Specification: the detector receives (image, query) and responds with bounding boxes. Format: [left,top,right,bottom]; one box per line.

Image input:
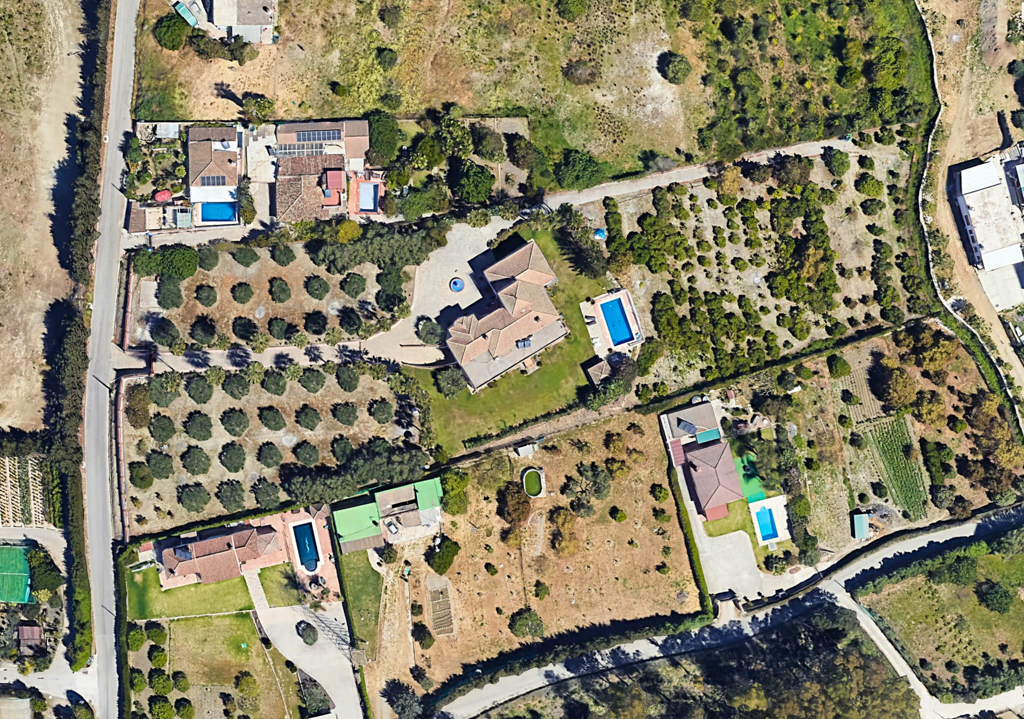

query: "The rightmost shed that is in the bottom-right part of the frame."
[853,514,869,538]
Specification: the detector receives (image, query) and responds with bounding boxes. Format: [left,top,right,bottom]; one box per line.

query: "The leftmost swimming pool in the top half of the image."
[195,202,238,224]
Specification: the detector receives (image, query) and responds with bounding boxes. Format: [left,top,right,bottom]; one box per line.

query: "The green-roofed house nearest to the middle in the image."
[333,478,443,554]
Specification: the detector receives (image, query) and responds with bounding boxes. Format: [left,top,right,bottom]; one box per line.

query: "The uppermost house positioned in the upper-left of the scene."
[214,0,274,44]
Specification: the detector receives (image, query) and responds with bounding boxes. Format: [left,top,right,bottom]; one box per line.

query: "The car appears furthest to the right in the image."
[381,517,399,537]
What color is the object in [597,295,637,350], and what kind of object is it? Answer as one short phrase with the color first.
blue swimming pool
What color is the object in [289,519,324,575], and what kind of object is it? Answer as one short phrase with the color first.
blue swimming pool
